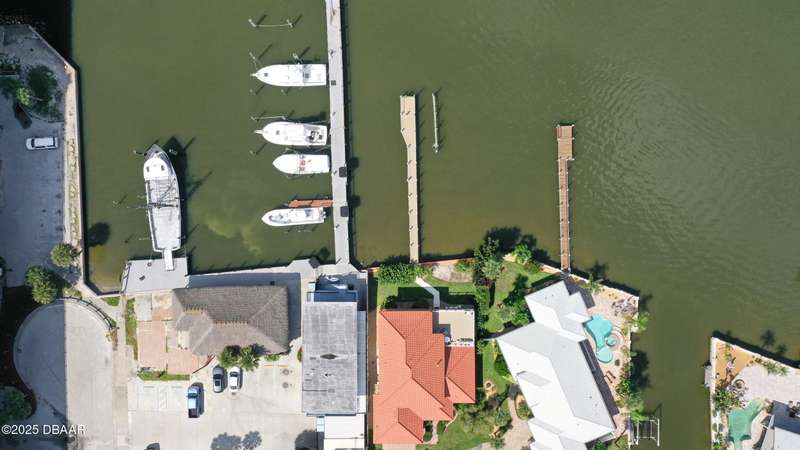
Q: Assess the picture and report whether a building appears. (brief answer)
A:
Yes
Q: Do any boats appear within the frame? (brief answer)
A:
Yes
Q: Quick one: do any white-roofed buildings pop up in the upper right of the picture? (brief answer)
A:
No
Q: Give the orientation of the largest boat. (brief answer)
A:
vertically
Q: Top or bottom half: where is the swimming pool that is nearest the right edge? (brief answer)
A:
bottom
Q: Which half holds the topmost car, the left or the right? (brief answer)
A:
left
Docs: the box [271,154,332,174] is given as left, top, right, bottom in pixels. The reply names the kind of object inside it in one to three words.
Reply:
boat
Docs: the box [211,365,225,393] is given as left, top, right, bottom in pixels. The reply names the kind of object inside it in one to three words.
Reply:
car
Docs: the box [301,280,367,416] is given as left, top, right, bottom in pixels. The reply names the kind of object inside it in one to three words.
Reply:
building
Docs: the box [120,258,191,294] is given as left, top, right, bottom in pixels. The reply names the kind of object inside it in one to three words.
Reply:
pier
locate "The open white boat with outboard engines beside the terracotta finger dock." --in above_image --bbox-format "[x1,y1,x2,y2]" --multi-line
[261,207,329,226]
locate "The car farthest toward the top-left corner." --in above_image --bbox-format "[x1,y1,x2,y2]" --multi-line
[13,104,38,131]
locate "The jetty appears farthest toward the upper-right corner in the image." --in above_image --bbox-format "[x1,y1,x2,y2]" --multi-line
[555,124,576,273]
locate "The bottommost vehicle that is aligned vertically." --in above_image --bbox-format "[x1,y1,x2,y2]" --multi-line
[188,383,203,419]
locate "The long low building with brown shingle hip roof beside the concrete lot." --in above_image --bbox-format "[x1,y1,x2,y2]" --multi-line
[172,286,288,355]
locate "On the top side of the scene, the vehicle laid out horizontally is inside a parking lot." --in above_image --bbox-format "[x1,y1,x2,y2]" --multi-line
[27,135,59,149]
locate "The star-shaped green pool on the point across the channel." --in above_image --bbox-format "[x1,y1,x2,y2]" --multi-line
[727,398,764,450]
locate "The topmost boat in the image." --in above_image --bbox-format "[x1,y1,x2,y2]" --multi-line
[249,58,327,87]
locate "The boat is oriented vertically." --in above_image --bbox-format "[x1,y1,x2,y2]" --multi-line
[137,143,186,250]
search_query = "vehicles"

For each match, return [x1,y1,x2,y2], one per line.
[211,365,225,393]
[188,383,203,419]
[229,365,242,395]
[27,135,59,149]
[13,104,38,131]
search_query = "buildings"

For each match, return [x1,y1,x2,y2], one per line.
[372,307,476,445]
[497,281,614,450]
[172,286,288,355]
[301,280,367,416]
[751,416,800,450]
